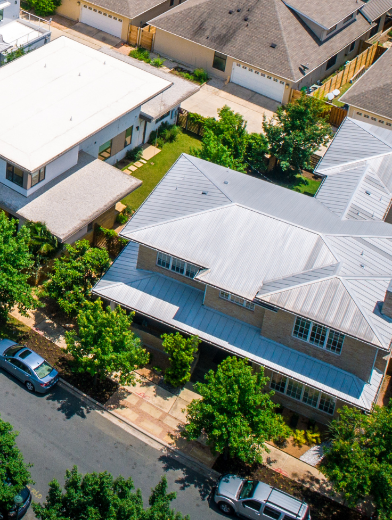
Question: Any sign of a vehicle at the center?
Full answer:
No, looking at the center, there is no vehicle.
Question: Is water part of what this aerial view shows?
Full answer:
No, the scene doesn't show any water.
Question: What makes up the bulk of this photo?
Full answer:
The scene is dominated by buildings.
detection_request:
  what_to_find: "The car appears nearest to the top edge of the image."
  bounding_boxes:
[0,341,62,399]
